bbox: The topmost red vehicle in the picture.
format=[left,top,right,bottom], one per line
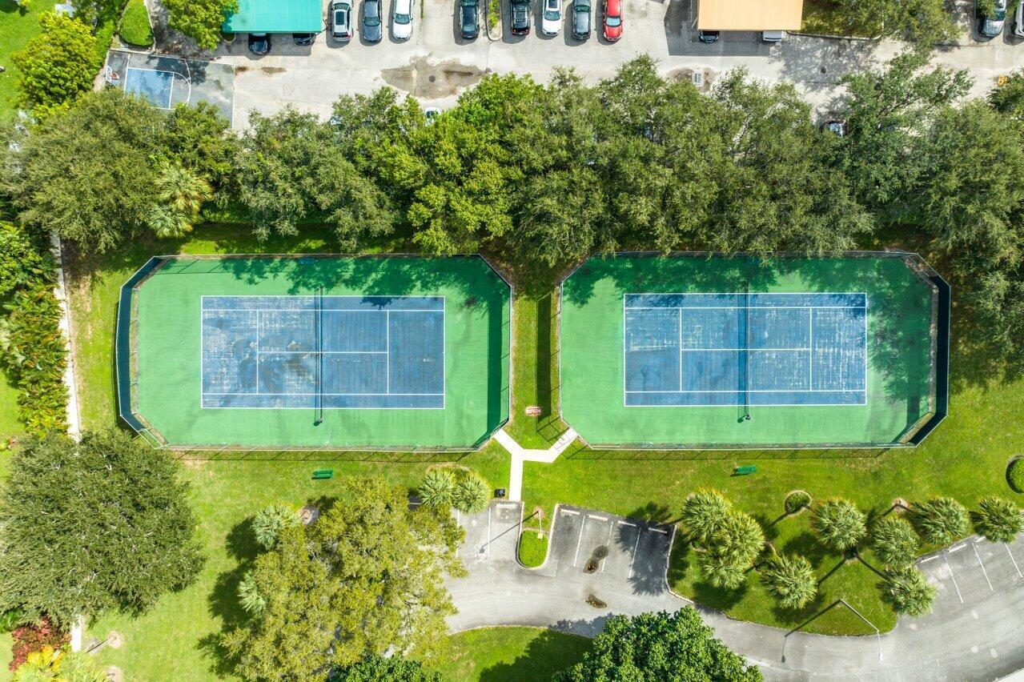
[602,0,625,42]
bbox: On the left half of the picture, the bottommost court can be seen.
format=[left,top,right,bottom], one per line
[135,258,510,446]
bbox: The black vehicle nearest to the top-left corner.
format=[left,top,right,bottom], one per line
[244,33,269,57]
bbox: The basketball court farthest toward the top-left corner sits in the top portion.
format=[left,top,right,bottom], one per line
[104,51,234,138]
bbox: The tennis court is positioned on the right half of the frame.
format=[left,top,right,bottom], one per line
[559,258,930,445]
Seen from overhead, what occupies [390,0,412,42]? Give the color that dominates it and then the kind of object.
white car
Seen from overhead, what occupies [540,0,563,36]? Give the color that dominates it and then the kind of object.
white car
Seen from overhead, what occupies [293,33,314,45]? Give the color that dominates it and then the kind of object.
black vehicle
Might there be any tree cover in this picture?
Yes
